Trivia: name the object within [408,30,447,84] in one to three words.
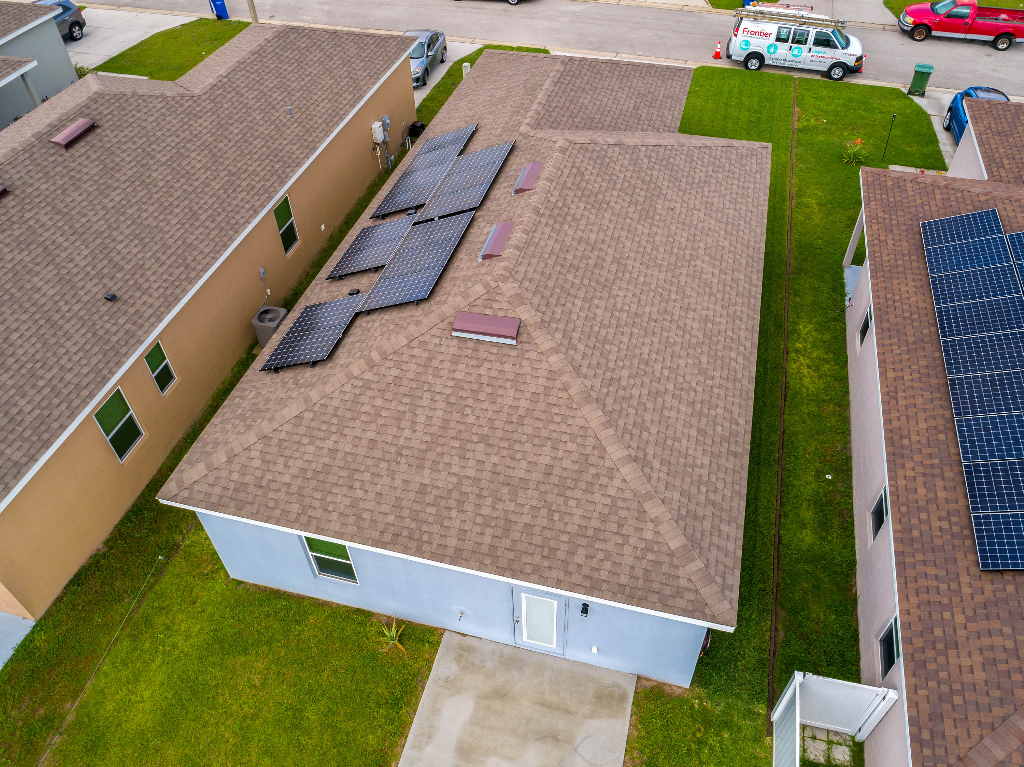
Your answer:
car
